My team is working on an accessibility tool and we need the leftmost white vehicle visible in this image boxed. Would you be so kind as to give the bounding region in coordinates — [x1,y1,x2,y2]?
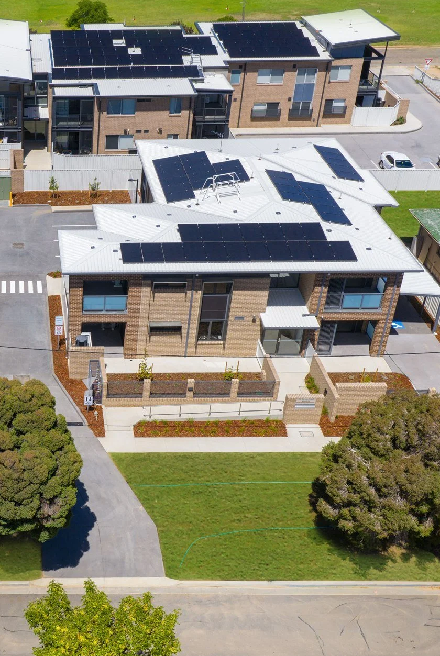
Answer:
[380,151,417,169]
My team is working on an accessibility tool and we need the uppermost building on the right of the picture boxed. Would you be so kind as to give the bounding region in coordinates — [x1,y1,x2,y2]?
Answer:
[196,7,405,126]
